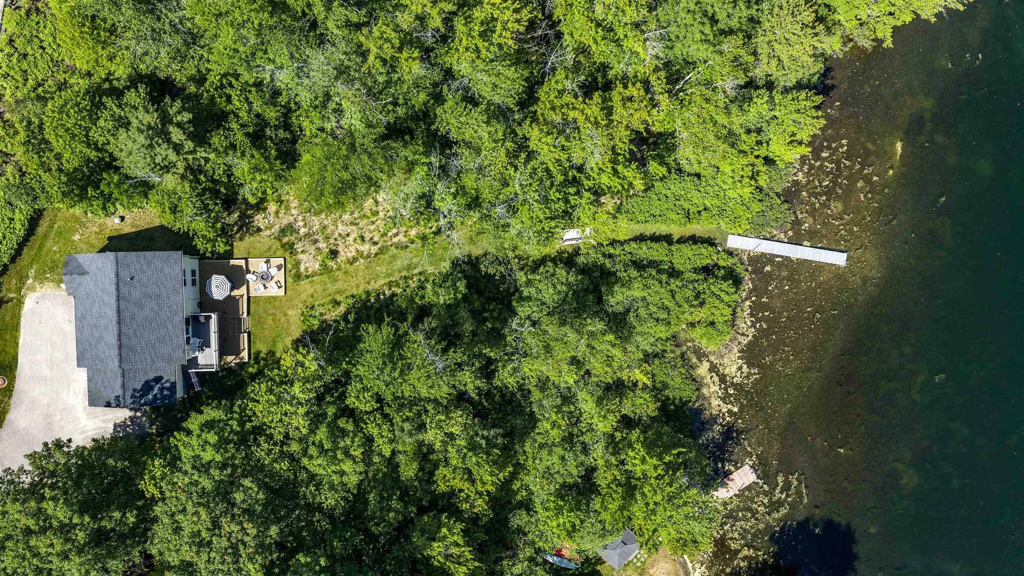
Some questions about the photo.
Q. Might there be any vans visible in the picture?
No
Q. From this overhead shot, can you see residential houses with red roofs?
No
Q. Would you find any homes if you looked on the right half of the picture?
No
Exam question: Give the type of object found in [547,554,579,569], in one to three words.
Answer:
boat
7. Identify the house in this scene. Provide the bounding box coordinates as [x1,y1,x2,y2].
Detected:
[62,251,201,408]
